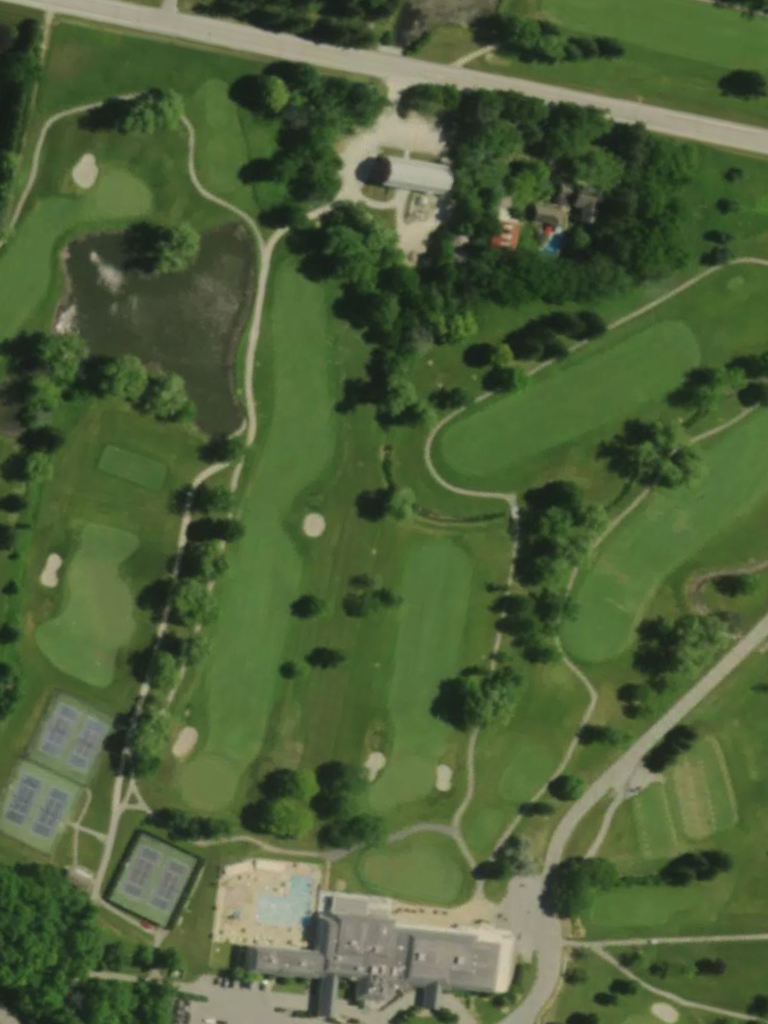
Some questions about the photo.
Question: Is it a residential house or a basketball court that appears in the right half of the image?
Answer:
residential house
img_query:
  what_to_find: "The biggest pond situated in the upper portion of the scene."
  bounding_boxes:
[57,223,253,438]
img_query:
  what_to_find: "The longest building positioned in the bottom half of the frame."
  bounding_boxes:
[245,895,514,1019]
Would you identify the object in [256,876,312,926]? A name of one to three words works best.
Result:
swimming pool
